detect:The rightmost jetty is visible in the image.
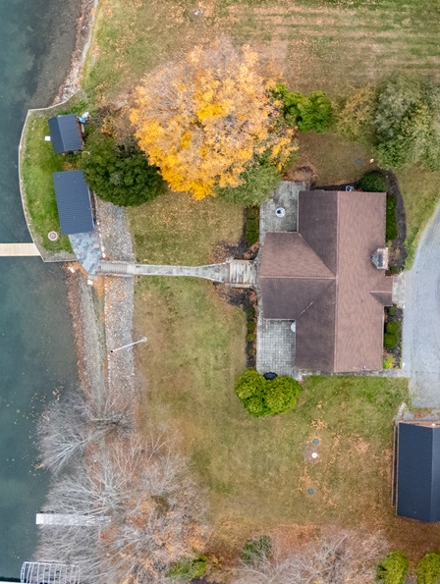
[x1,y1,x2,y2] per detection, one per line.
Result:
[33,511,113,528]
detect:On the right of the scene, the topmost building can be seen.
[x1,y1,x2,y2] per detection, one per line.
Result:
[260,190,399,372]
